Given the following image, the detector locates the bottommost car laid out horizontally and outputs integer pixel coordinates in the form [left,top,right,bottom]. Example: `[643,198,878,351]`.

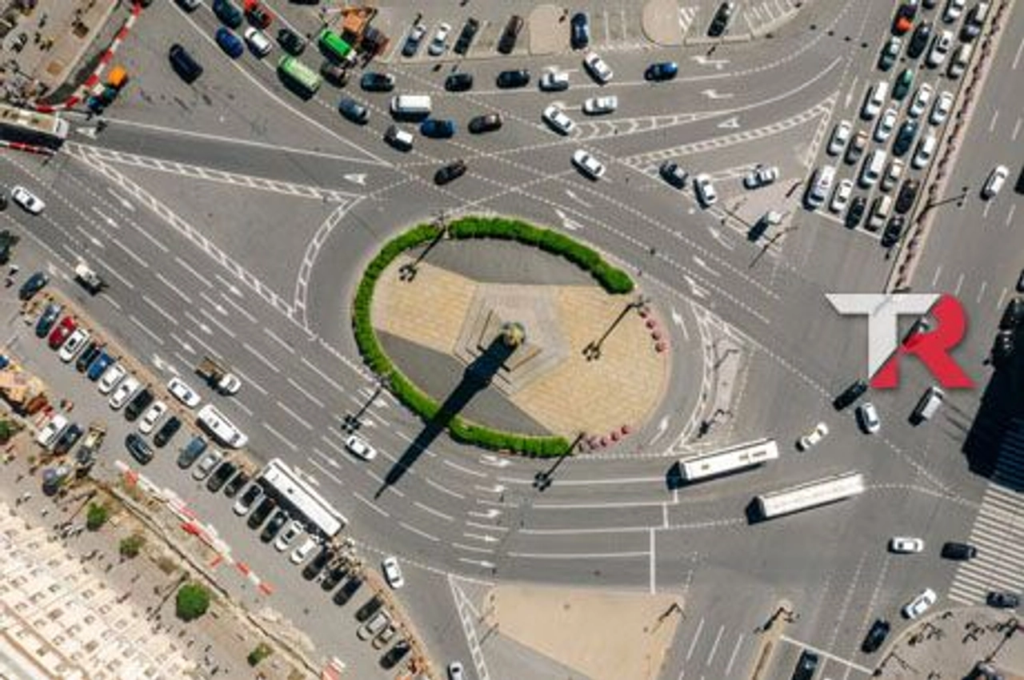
[981,590,1019,607]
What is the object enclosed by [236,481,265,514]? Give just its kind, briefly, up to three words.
car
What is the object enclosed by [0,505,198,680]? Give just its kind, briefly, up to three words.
building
